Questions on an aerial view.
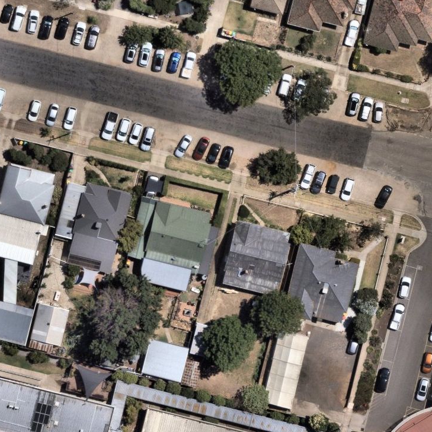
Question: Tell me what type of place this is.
residential area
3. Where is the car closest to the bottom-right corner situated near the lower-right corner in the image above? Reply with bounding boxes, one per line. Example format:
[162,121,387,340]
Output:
[416,378,429,402]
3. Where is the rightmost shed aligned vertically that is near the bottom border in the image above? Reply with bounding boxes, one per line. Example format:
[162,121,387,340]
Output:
[268,334,311,412]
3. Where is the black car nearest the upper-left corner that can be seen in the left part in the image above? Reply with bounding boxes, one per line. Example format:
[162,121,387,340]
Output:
[0,3,12,24]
